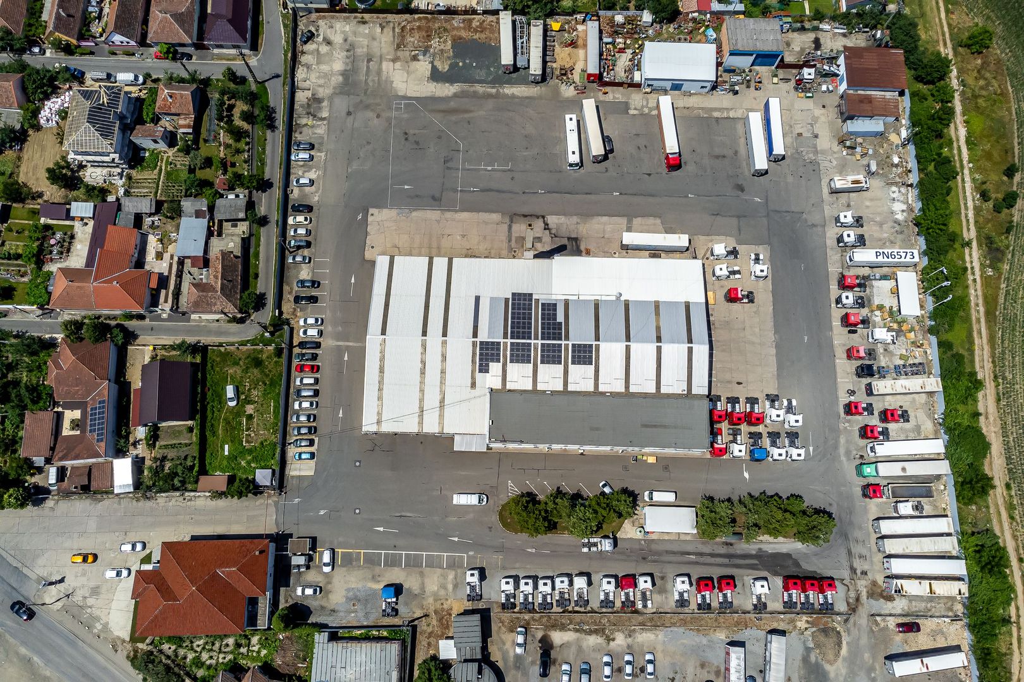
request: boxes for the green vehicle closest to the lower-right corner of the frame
[851,462,882,478]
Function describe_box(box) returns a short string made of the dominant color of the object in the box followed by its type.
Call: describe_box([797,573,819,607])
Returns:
red truck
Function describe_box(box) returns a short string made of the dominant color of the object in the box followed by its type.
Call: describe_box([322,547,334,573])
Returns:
white vehicle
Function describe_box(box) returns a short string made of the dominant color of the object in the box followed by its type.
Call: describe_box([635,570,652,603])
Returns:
white vehicle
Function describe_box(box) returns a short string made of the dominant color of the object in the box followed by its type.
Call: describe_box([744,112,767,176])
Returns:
white trailer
